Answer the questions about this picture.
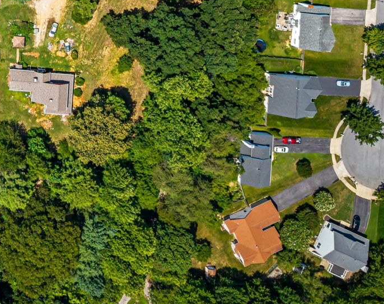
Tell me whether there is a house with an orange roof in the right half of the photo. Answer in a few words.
Yes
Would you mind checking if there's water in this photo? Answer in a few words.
No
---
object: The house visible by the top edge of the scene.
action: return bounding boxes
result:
[291,0,336,50]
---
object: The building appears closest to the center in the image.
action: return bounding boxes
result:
[236,133,272,188]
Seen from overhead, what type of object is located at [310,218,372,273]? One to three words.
house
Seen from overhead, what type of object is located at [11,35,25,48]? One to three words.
gazebo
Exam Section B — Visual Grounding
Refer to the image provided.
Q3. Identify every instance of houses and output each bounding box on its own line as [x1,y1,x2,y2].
[291,0,336,50]
[221,197,284,267]
[236,133,272,188]
[8,68,75,116]
[261,72,321,118]
[310,218,372,273]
